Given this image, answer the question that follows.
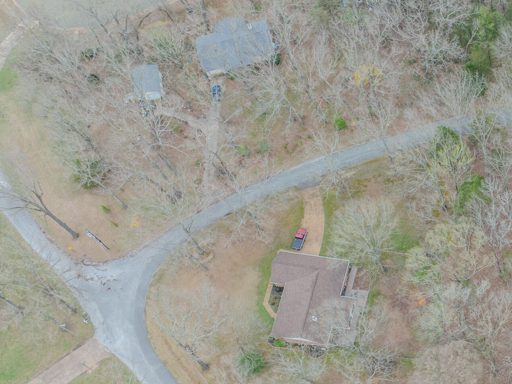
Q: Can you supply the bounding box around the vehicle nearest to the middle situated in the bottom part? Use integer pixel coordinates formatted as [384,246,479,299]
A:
[291,228,308,252]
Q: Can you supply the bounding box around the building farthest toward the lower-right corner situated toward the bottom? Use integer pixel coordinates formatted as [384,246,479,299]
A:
[270,247,357,345]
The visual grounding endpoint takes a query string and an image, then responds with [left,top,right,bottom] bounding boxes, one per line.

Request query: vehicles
[291,228,308,252]
[210,83,222,105]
